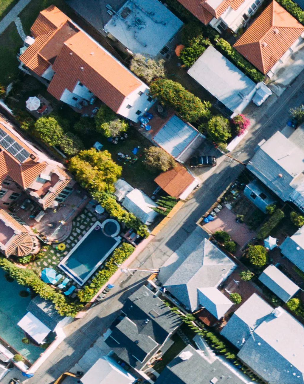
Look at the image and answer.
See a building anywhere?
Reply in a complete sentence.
Yes, the image includes a building.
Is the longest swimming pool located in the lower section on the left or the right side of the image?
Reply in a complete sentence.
The longest swimming pool located in the lower section sits on the left side.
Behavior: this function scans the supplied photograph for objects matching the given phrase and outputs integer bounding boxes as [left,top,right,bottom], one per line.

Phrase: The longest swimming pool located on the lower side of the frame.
[58,221,122,286]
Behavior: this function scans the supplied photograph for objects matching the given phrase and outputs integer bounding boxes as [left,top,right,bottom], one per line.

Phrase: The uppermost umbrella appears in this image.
[27,98,41,112]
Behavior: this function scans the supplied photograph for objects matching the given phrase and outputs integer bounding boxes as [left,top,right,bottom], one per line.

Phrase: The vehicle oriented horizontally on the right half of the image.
[179,154,216,169]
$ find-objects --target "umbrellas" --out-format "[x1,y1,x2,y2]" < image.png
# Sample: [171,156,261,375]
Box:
[41,268,58,284]
[264,237,277,249]
[27,98,41,112]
